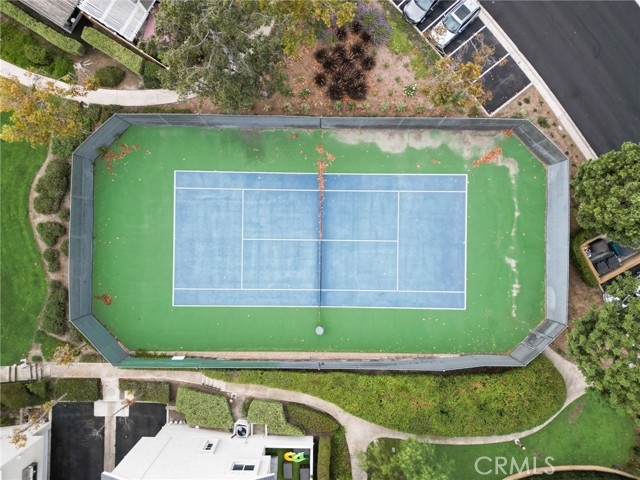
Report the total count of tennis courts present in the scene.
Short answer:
1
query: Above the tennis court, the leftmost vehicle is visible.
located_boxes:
[403,0,442,24]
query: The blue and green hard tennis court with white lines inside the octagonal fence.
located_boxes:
[92,125,548,360]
